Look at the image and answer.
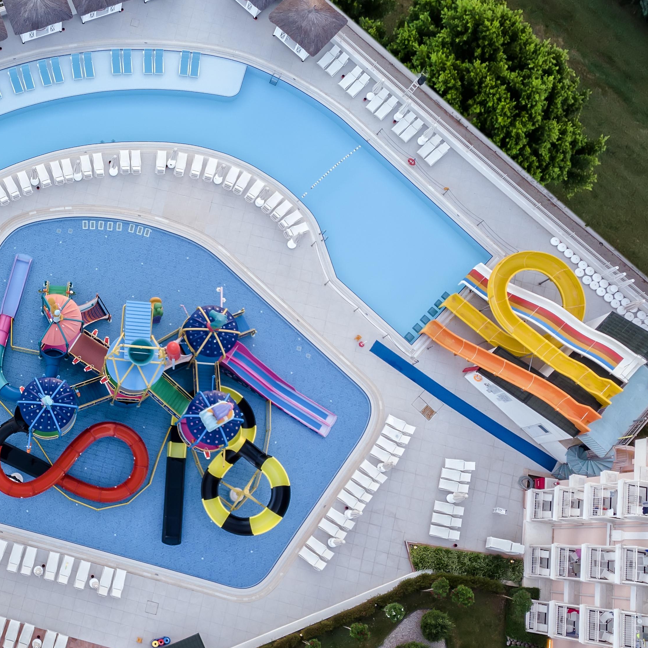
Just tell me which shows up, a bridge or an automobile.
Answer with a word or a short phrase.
bridge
